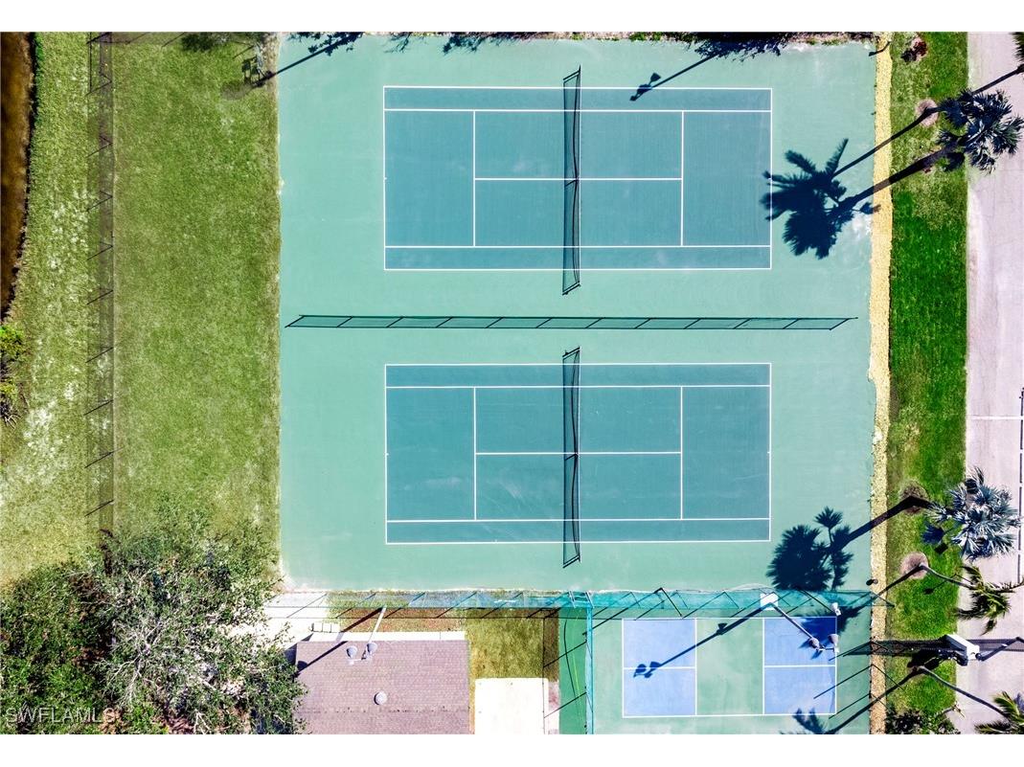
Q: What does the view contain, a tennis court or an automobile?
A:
tennis court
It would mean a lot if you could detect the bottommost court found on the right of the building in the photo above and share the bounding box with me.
[622,617,837,718]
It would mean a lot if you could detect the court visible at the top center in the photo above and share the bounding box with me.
[383,86,772,270]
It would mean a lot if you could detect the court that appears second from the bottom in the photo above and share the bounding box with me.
[385,363,771,544]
